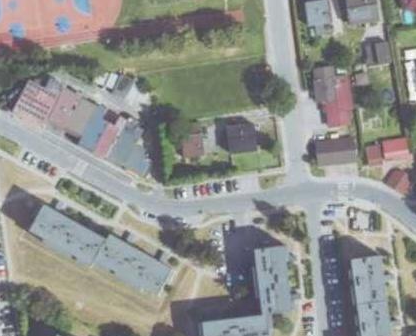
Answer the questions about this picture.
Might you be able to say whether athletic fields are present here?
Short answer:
Yes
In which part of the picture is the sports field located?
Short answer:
top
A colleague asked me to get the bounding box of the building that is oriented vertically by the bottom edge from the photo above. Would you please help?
[348,254,392,336]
